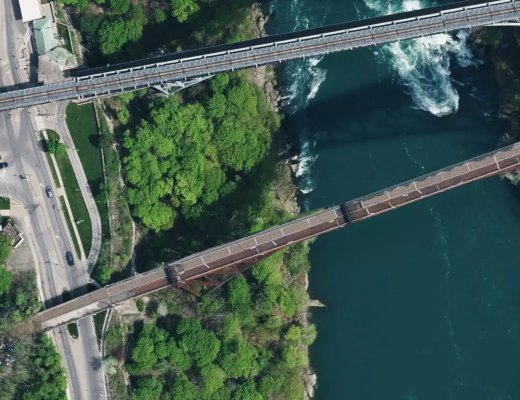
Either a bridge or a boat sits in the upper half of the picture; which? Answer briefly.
bridge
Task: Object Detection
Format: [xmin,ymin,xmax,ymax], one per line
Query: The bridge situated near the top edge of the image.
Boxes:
[0,0,520,110]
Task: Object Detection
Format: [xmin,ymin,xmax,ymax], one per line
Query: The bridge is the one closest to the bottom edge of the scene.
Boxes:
[35,140,520,334]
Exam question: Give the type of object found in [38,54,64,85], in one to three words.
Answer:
building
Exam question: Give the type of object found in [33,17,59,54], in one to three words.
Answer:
building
